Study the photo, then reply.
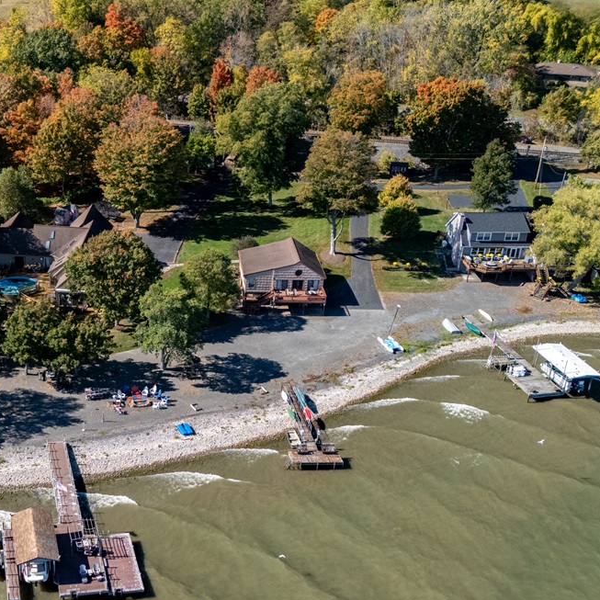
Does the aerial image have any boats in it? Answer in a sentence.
Yes, there's a boat down there.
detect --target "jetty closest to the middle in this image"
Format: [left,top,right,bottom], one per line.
[287,390,344,472]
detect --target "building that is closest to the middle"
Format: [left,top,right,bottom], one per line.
[228,229,331,316]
